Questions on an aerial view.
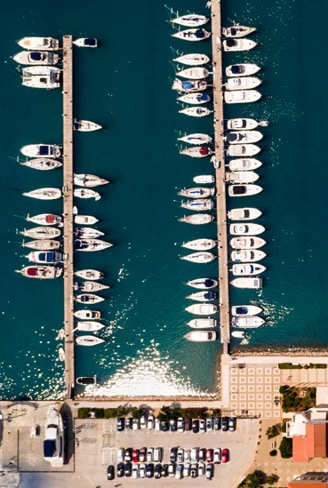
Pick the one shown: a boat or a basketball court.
boat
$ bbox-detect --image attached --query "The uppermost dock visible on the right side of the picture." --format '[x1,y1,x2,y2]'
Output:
[212,0,231,357]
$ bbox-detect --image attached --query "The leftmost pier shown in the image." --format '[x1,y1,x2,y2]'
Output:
[65,34,77,400]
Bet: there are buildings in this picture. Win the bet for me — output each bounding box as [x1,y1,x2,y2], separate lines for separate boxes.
[288,478,328,488]
[287,405,328,463]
